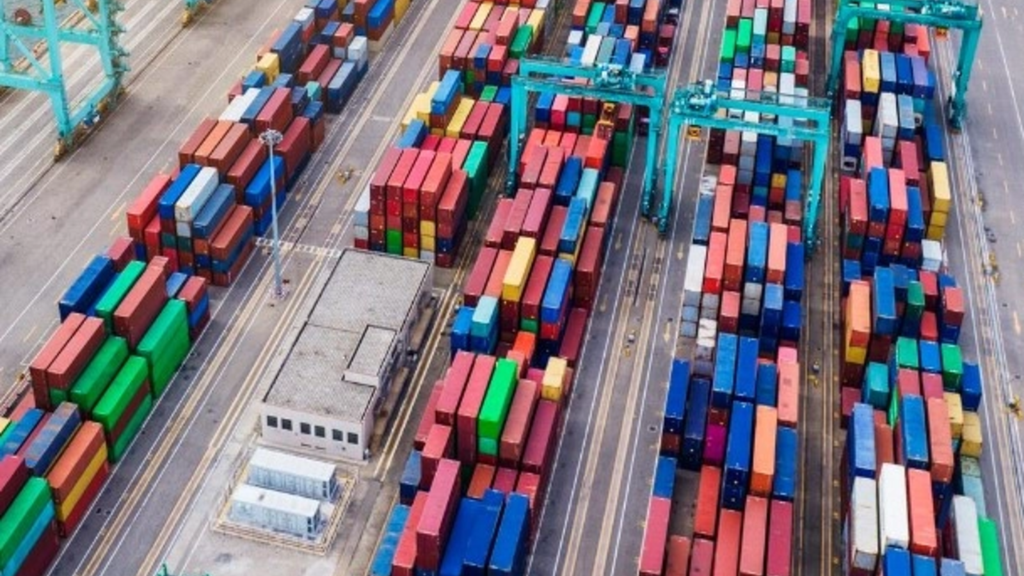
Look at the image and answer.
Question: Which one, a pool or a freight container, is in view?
freight container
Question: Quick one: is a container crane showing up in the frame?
Yes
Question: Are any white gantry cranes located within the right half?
No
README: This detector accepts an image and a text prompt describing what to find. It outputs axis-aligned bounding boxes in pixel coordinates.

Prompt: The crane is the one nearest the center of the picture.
[510,50,665,216]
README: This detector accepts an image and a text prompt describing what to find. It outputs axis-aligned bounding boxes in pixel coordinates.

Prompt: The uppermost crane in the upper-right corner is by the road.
[832,0,983,127]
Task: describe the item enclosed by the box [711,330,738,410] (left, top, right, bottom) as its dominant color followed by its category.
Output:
blue shipping container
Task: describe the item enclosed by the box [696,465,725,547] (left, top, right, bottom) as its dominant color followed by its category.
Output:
red shipping container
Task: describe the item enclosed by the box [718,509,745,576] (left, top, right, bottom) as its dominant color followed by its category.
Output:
red shipping container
